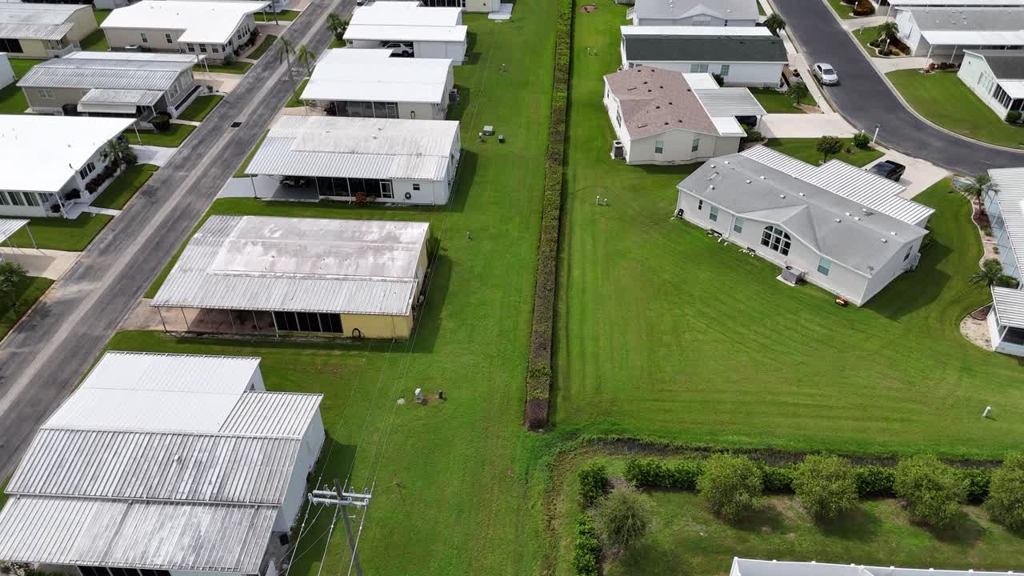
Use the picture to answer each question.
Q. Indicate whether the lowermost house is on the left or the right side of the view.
left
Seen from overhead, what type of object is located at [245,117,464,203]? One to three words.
house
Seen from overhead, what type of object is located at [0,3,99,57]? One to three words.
house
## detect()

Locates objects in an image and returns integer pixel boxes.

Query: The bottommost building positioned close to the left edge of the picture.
[0,347,324,576]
